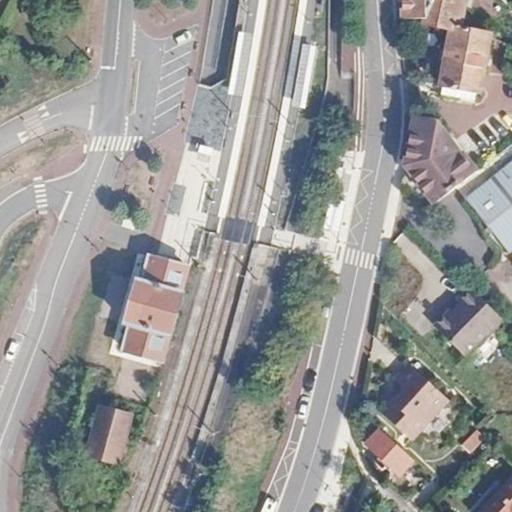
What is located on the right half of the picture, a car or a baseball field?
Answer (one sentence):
You can see a car on the right half of the picture.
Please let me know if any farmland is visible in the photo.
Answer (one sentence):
No, the picture contains no farmland.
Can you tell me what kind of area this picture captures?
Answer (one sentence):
What you see here is a residential area.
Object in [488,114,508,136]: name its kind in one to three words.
car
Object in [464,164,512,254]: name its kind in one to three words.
building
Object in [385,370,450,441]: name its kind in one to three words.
house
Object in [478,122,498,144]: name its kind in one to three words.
car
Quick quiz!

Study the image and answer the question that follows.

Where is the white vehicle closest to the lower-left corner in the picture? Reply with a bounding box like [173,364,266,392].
[4,337,20,359]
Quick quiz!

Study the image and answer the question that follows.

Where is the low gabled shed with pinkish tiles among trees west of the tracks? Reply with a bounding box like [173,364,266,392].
[88,406,134,464]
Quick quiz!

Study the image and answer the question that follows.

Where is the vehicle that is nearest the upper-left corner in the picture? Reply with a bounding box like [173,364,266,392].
[172,30,193,45]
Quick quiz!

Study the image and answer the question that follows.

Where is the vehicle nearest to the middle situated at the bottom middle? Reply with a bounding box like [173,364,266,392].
[302,368,316,390]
